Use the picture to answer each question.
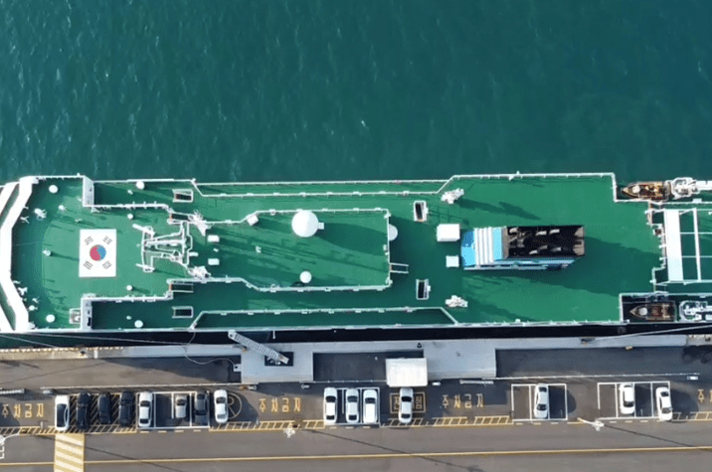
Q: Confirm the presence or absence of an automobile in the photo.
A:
Yes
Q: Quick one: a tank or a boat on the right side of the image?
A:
boat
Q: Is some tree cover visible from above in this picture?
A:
No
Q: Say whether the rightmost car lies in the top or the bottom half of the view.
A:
bottom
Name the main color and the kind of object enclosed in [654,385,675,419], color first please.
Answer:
white car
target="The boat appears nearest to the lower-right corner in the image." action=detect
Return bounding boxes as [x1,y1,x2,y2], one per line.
[627,301,678,321]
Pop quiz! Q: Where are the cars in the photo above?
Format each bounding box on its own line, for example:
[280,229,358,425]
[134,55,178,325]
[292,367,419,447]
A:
[323,388,338,424]
[54,395,71,431]
[344,389,360,422]
[173,393,188,421]
[73,393,92,429]
[117,392,135,426]
[398,388,414,423]
[192,389,209,426]
[618,382,637,416]
[533,384,551,419]
[654,385,675,419]
[214,389,229,424]
[138,391,155,427]
[362,388,380,424]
